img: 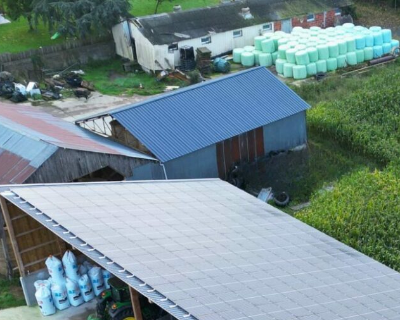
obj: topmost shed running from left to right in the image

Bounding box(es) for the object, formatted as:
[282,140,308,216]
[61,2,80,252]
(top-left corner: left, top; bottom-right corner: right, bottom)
[113,0,361,72]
